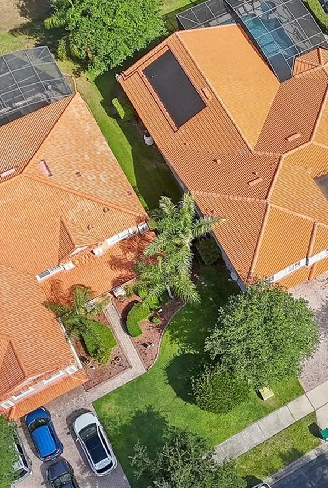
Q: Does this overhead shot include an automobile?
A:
Yes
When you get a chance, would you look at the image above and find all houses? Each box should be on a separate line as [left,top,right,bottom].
[0,91,171,422]
[116,21,328,292]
